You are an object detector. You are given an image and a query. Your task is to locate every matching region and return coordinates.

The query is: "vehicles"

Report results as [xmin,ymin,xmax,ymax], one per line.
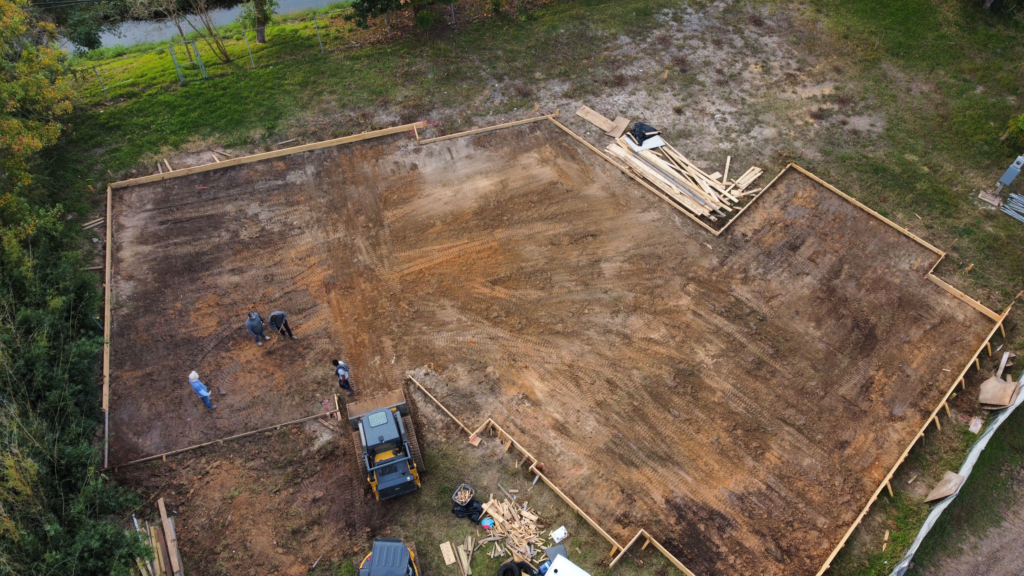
[346,387,425,505]
[354,539,424,576]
